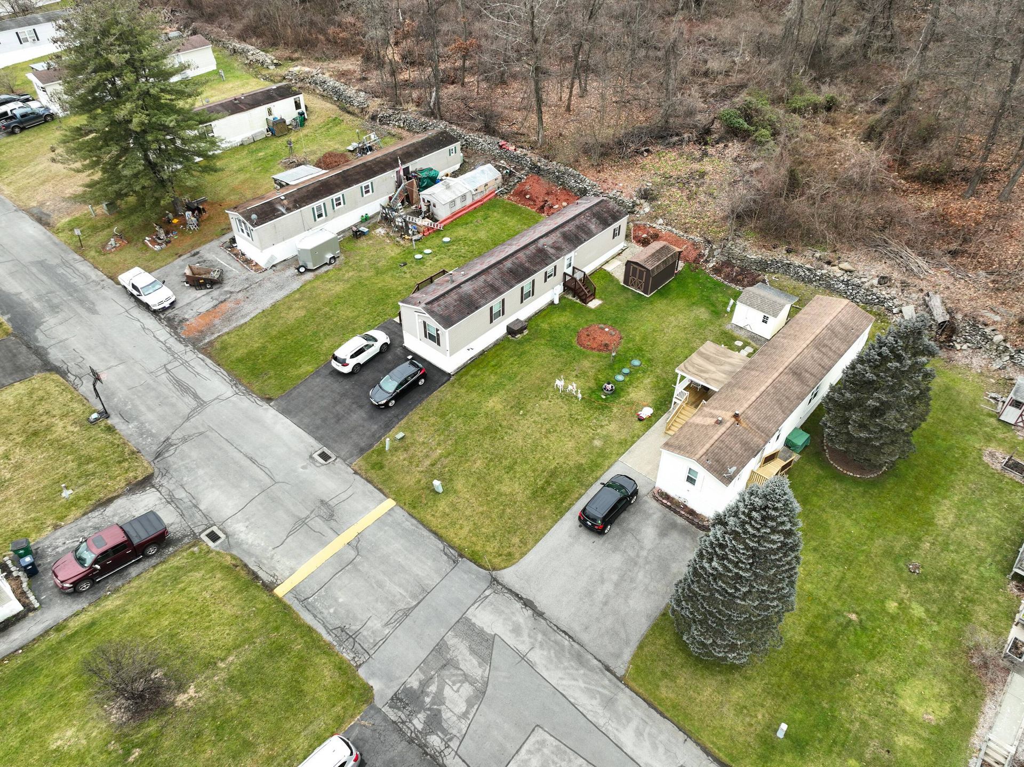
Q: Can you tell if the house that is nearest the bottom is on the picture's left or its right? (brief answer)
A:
left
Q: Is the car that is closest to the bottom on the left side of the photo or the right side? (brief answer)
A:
left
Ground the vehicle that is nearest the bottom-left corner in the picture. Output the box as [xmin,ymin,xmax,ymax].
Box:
[52,511,170,595]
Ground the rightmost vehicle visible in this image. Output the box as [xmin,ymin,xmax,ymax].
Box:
[579,475,642,539]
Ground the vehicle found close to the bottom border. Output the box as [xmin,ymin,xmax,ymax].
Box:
[297,736,364,767]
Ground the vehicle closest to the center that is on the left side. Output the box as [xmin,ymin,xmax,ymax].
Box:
[371,359,427,408]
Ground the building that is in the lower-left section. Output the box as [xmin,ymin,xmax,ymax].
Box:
[0,572,28,630]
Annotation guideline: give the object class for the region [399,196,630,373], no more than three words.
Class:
house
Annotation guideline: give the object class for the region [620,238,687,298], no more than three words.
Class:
shed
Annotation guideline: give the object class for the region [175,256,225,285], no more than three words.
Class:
trailer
